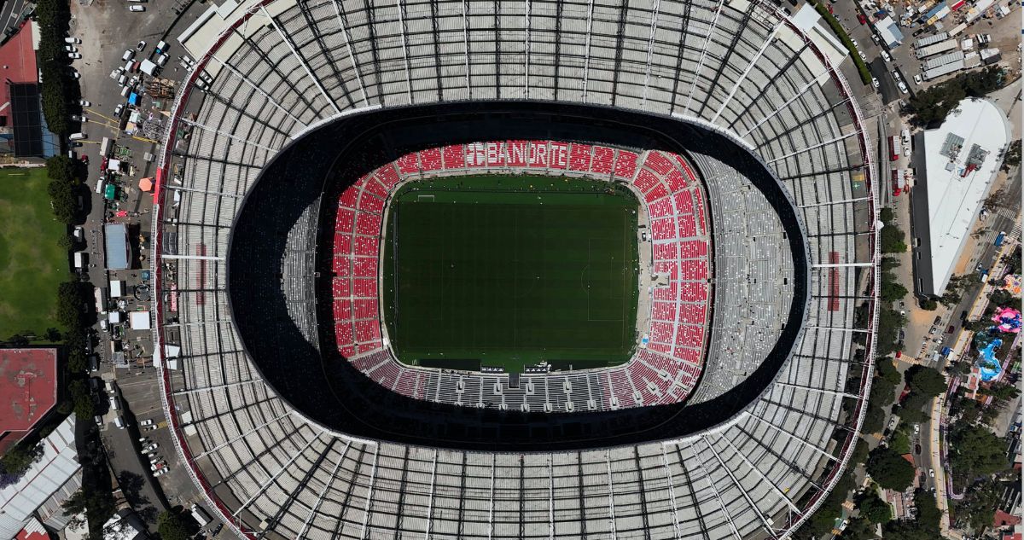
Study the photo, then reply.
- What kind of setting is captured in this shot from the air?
sports ground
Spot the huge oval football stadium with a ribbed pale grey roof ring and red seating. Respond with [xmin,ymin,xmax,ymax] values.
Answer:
[149,0,882,540]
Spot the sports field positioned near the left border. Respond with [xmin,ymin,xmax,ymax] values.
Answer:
[0,166,66,339]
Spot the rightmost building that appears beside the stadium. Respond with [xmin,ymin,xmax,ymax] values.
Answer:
[913,97,1010,297]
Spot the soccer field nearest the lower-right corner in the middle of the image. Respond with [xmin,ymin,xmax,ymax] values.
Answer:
[385,174,639,372]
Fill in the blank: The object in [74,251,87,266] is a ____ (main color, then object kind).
white vehicle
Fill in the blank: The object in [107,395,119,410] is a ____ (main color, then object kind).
white vehicle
